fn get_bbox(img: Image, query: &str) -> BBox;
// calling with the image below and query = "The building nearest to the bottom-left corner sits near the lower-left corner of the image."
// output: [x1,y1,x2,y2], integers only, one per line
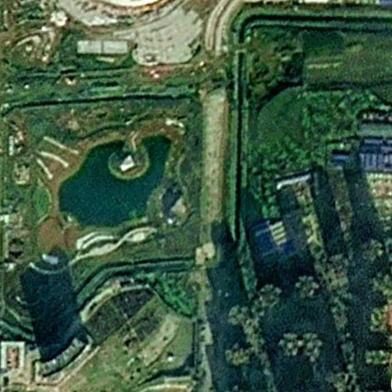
[0,341,27,378]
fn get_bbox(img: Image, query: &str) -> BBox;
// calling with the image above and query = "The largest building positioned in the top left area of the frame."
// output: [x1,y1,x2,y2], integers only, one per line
[78,41,128,53]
